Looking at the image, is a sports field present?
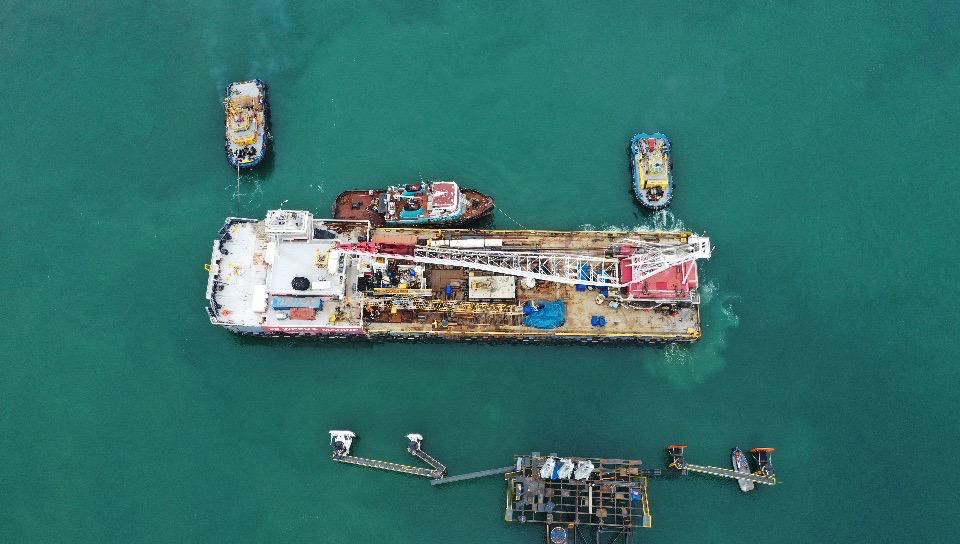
No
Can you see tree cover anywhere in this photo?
No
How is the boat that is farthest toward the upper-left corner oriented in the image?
up and down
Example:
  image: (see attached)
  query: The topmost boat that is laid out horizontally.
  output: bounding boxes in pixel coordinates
[332,181,495,230]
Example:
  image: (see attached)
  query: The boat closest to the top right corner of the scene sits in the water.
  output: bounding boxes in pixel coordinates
[629,132,675,212]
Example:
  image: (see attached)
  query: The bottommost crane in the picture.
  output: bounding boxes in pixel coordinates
[335,234,713,305]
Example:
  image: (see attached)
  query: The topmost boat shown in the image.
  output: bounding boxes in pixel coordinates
[225,79,271,170]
